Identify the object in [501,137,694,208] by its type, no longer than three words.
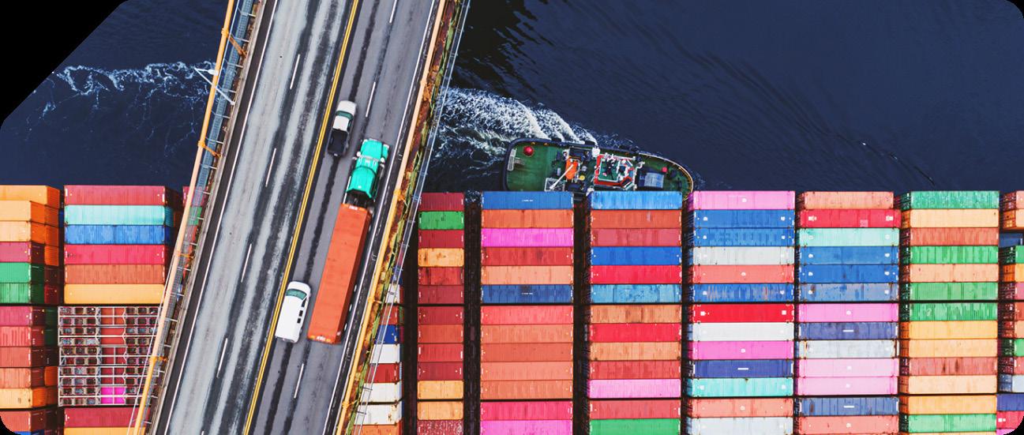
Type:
boat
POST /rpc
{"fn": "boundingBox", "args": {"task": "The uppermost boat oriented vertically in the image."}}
[565,159,578,182]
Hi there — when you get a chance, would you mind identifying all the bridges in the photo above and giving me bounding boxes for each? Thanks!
[128,0,472,435]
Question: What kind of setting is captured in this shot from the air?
port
